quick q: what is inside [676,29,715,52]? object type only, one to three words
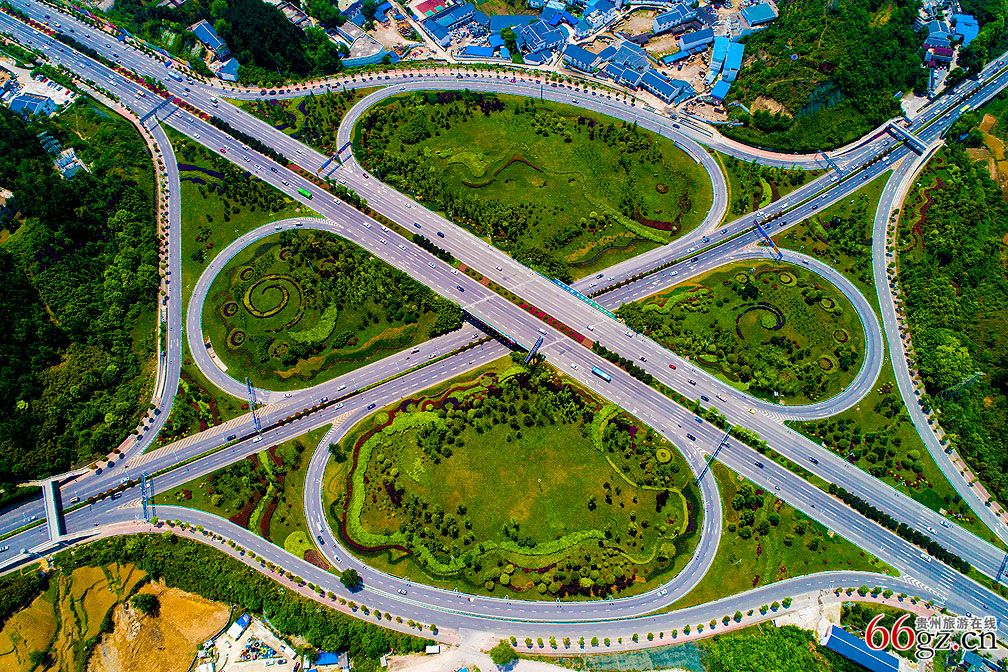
house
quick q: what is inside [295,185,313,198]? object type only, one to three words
vehicle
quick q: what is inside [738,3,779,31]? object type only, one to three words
building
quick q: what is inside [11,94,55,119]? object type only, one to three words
house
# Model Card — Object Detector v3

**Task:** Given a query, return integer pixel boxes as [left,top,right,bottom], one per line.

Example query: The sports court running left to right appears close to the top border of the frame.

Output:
[407,0,462,21]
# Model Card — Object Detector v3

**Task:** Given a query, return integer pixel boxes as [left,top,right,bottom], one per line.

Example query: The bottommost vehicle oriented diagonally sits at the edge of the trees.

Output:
[282,642,297,658]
